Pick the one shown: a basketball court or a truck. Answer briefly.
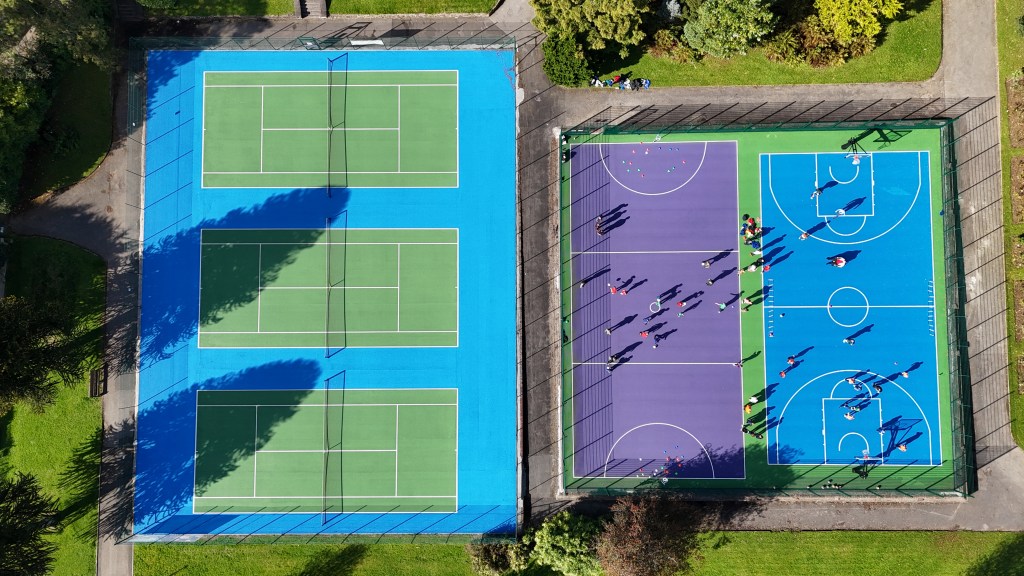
basketball court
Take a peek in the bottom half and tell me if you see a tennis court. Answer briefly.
Yes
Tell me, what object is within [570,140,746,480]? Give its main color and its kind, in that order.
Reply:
purple sports court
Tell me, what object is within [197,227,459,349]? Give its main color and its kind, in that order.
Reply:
green tennis court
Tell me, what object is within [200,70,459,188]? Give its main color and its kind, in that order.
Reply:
green tennis court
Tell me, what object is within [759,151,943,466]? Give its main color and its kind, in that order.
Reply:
blue basketball court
